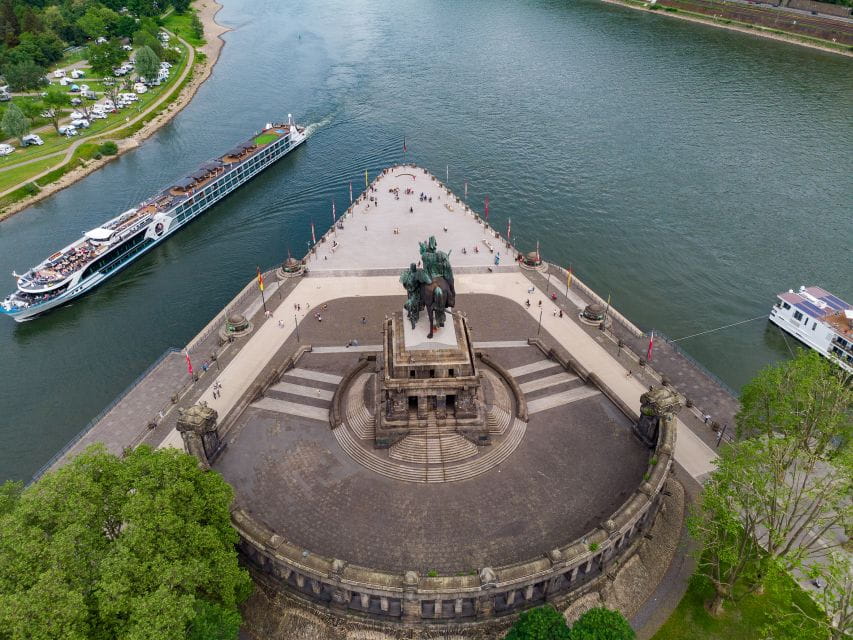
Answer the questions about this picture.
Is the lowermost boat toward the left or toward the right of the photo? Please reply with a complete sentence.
The lowermost boat is on the right side of the image.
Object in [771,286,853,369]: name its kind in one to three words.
boat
